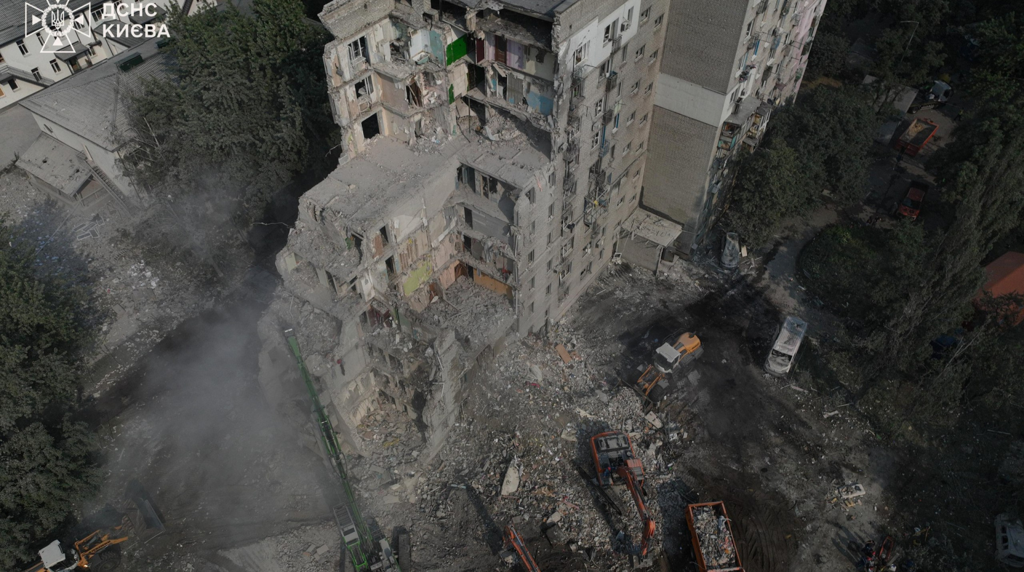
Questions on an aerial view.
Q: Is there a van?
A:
Yes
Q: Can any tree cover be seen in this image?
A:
Yes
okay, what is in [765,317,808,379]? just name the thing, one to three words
van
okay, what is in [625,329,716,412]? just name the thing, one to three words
work vehicle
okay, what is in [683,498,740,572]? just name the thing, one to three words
truck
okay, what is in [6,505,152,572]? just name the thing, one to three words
work vehicle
